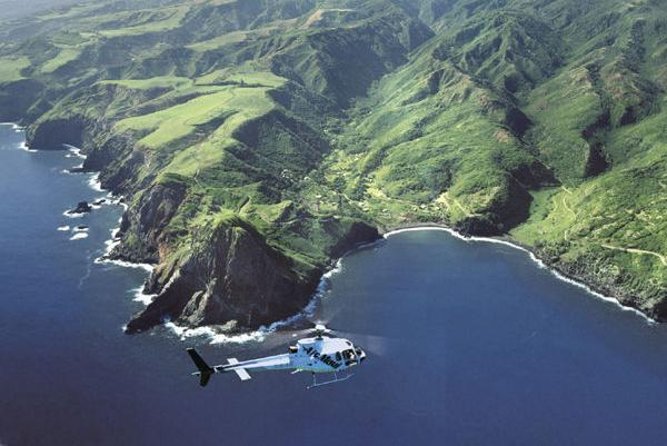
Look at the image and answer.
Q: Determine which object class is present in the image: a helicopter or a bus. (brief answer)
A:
helicopter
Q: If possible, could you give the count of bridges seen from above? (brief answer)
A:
0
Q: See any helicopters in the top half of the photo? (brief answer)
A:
No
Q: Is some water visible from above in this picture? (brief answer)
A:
Yes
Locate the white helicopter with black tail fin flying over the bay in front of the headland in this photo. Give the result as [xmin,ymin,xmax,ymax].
[184,285,408,388]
